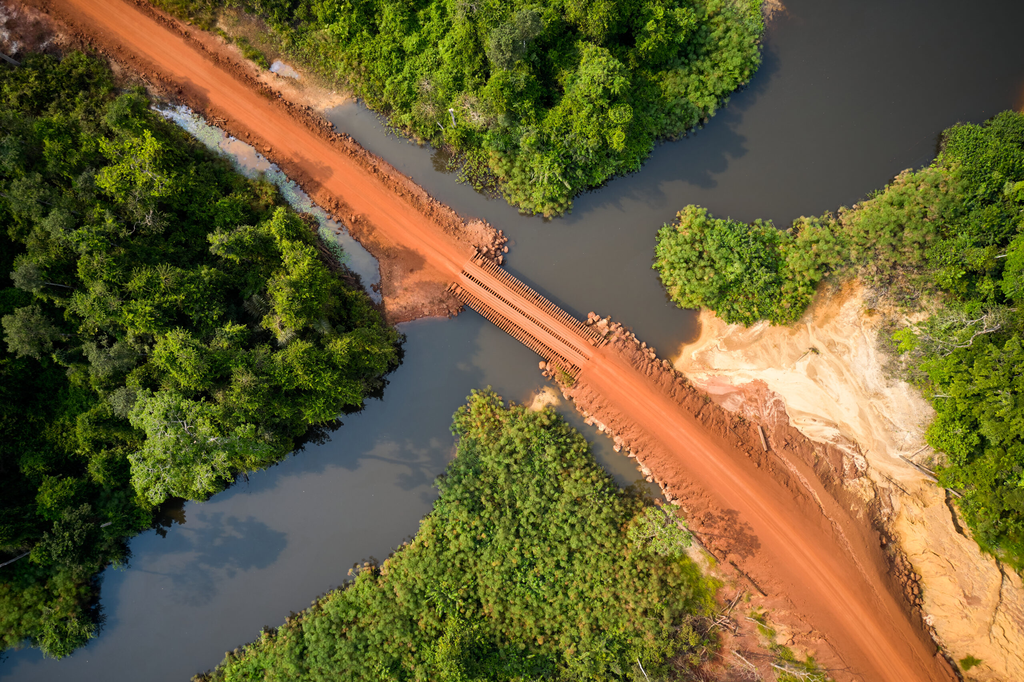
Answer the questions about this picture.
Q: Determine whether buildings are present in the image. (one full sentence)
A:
No, there isn't any building down there.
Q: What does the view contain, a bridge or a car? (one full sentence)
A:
There is a bridge in the scene.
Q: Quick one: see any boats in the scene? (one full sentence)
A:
No, this view has no boat in it.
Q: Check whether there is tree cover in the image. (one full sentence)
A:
Yes, tree cover can be seen from above here.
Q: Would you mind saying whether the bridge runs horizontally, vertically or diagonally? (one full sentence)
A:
Seen from above, the bridge lies diagonally.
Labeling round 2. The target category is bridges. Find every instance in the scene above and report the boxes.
[443,245,611,387]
